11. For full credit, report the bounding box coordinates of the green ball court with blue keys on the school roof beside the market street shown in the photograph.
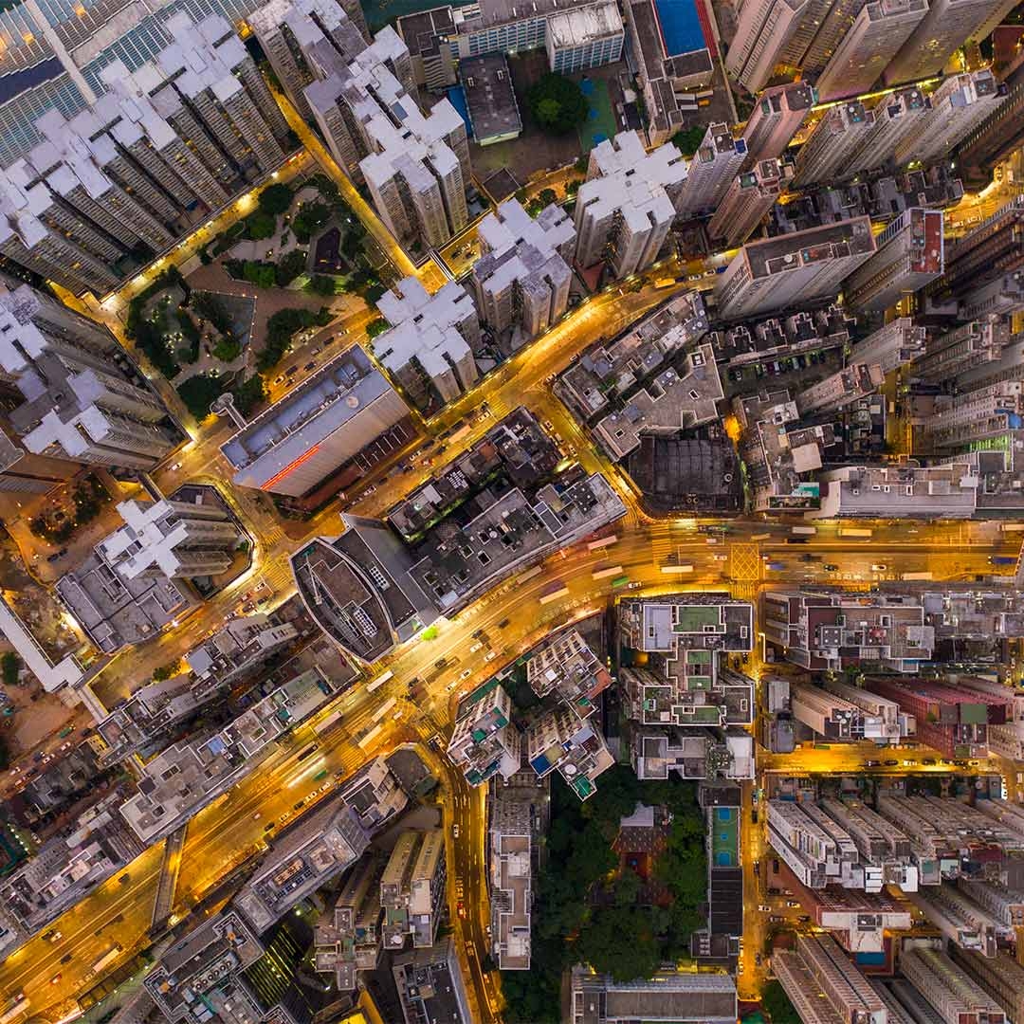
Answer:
[713,809,737,867]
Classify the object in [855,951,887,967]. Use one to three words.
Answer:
swimming pool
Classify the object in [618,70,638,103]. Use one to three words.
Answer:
house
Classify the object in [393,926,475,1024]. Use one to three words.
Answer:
building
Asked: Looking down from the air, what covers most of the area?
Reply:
buildings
